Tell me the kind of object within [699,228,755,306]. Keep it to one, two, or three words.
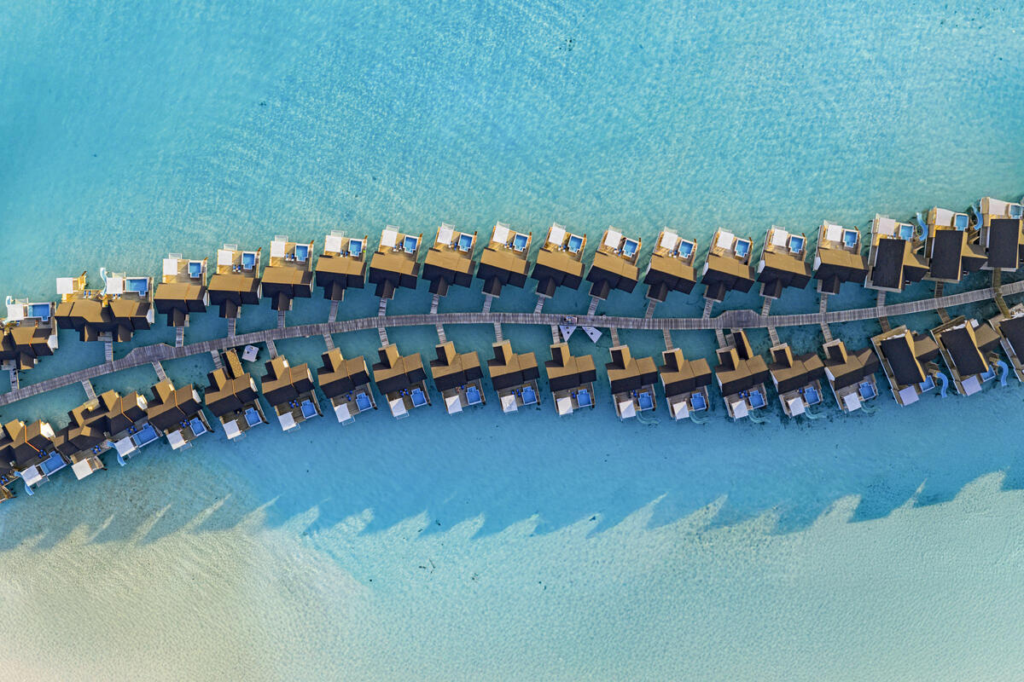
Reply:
house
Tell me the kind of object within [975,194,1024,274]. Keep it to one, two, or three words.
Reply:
house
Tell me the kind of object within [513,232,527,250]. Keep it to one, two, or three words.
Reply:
swimming pool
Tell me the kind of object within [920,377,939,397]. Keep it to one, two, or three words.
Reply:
swimming pool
